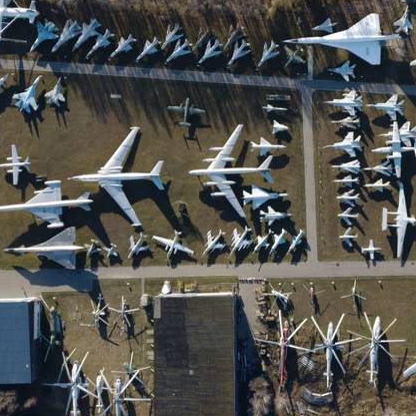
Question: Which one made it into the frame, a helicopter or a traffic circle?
helicopter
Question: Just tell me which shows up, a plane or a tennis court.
plane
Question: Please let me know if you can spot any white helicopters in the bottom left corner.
Yes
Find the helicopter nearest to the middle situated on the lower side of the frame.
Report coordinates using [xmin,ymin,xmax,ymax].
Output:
[264,282,293,310]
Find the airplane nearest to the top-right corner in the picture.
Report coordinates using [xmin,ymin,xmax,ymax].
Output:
[394,6,414,35]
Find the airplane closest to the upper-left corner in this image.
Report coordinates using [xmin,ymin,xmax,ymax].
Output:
[30,18,59,51]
